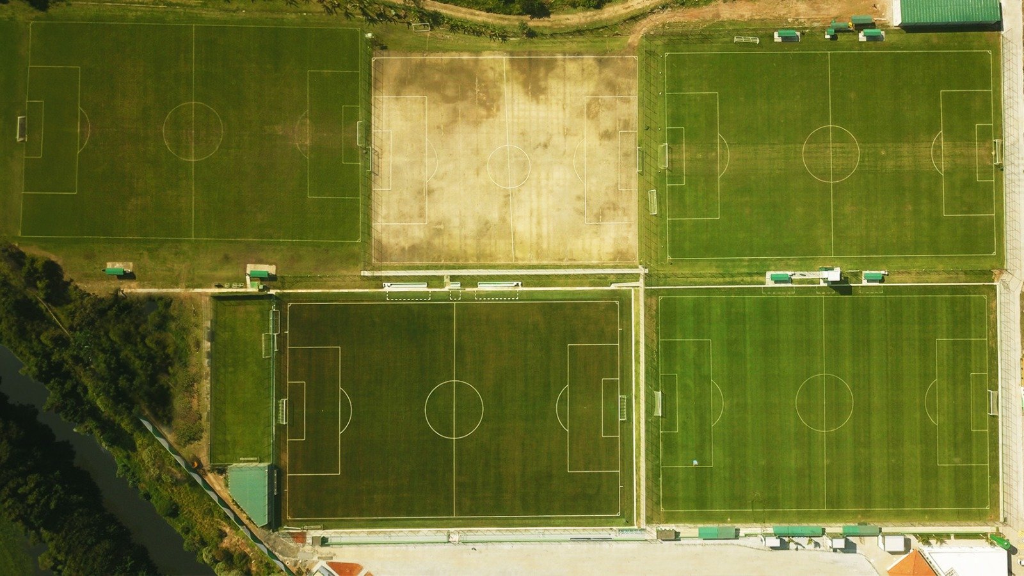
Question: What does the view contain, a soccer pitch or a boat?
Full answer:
It is a soccer pitch that can be seen here.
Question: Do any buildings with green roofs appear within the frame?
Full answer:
Yes, the photo shows a building with a green roof.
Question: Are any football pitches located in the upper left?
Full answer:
Yes, a football pitch shows up in the upper left.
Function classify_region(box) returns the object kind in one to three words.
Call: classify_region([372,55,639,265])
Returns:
soccer field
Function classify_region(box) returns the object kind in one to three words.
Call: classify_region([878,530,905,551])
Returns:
building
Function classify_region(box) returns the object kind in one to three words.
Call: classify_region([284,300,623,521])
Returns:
soccer field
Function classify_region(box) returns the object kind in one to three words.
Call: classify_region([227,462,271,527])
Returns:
building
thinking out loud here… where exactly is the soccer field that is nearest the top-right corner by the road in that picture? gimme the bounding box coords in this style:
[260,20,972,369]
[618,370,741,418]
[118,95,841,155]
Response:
[664,50,997,260]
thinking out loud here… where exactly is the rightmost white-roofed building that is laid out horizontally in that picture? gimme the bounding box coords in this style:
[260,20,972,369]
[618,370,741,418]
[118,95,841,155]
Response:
[913,545,1009,576]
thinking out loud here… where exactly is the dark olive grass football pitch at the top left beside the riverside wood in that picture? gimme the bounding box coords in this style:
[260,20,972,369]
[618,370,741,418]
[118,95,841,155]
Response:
[20,21,362,244]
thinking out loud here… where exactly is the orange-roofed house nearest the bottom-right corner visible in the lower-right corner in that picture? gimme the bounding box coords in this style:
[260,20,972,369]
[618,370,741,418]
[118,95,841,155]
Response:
[882,545,943,576]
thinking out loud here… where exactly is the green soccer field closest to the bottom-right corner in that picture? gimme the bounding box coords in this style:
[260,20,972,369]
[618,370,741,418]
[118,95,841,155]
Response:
[658,294,991,512]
